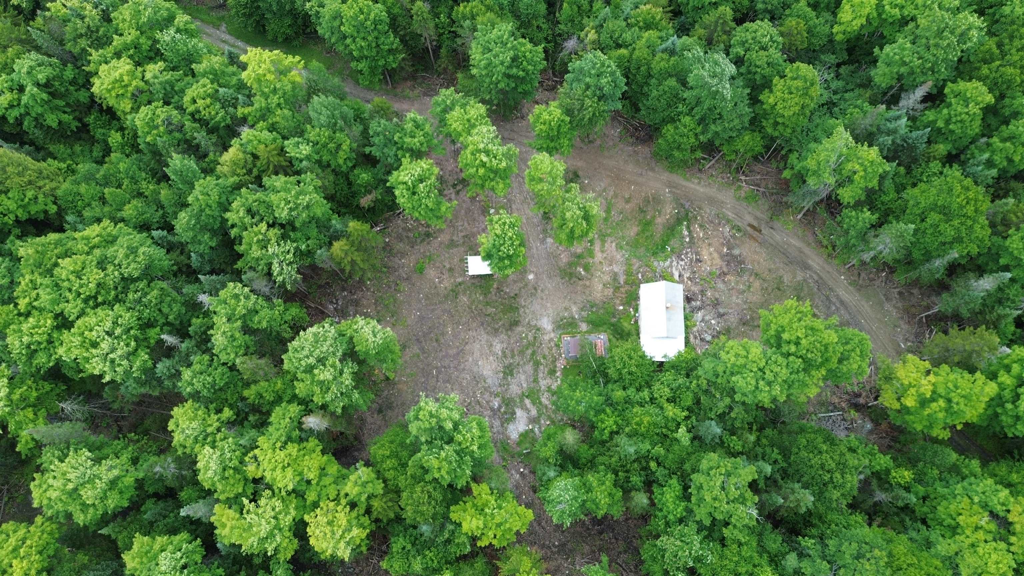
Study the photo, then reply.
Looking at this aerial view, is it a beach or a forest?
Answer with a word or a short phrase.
forest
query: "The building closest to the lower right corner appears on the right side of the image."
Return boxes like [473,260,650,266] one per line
[638,281,685,363]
